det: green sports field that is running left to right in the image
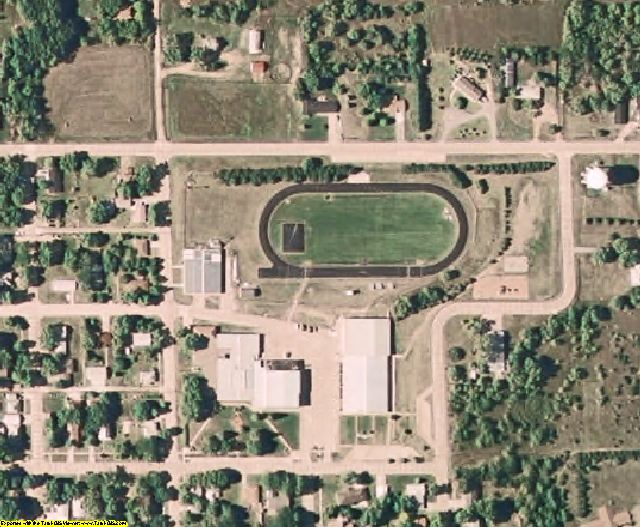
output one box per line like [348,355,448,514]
[269,193,458,268]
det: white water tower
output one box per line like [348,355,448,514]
[579,164,608,193]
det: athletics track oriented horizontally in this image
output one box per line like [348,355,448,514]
[258,182,469,278]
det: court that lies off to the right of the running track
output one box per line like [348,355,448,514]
[503,255,528,273]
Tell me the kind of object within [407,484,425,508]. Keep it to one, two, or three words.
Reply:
house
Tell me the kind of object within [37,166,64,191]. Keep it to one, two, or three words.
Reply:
house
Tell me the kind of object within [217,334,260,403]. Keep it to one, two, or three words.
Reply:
building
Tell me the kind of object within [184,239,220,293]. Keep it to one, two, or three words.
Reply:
building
